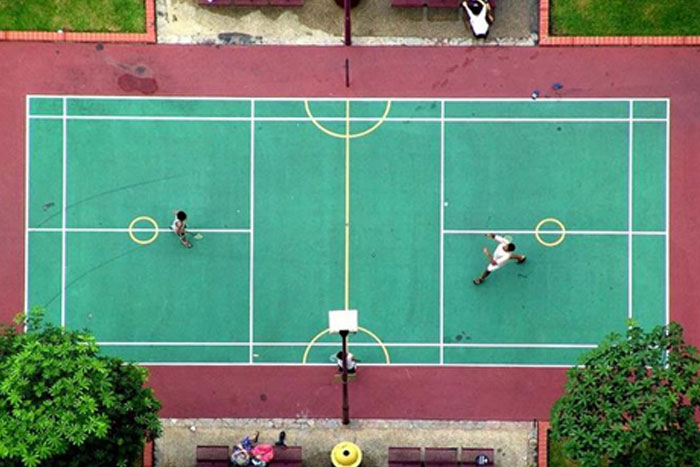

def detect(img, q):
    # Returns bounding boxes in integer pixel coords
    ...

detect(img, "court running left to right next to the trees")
[25,96,669,366]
